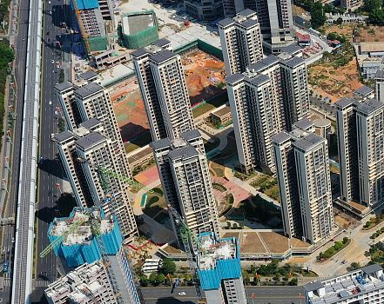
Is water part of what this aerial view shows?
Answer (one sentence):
No, no water is visible.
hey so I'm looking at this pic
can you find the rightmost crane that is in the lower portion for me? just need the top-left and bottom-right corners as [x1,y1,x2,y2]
[166,179,204,296]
